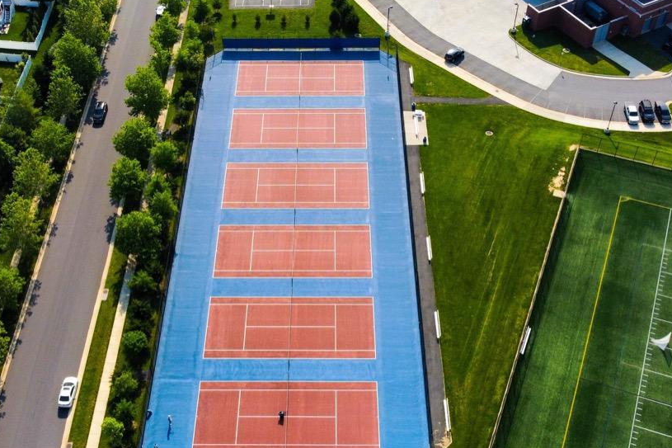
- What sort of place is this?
sports ground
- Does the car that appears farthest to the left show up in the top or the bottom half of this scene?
bottom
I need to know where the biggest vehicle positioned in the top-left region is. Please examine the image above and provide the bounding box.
[92,100,109,123]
